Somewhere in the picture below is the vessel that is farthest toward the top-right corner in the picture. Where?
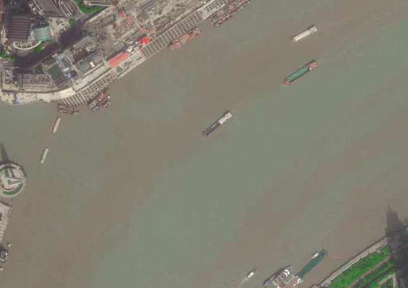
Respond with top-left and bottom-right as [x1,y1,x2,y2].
[292,26,319,39]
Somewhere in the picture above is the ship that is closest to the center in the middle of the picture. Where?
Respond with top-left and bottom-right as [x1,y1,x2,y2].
[202,111,233,136]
